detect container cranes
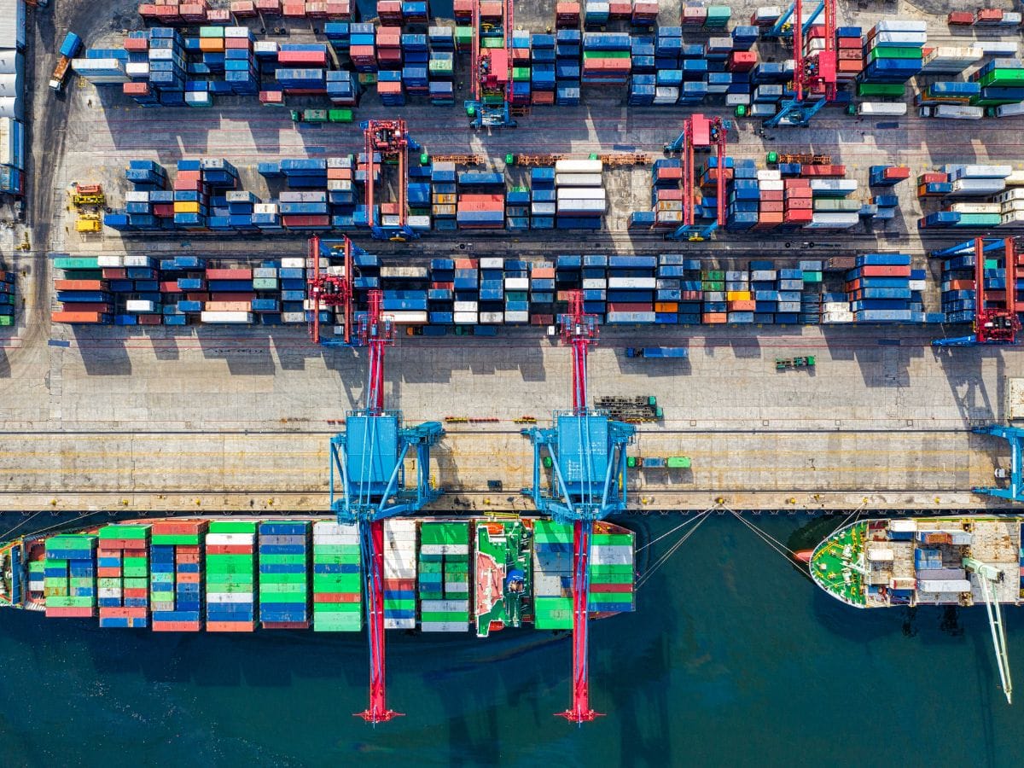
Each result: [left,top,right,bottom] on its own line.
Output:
[932,237,1018,351]
[330,290,450,735]
[664,112,735,243]
[974,431,1024,501]
[521,290,631,735]
[463,0,519,129]
[362,116,425,243]
[764,0,838,129]
[306,237,373,349]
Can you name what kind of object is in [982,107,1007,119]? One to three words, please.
vehicle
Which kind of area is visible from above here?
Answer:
port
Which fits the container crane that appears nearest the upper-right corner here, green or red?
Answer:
red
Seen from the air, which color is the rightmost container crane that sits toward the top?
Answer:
red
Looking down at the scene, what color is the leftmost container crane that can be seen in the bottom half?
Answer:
blue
